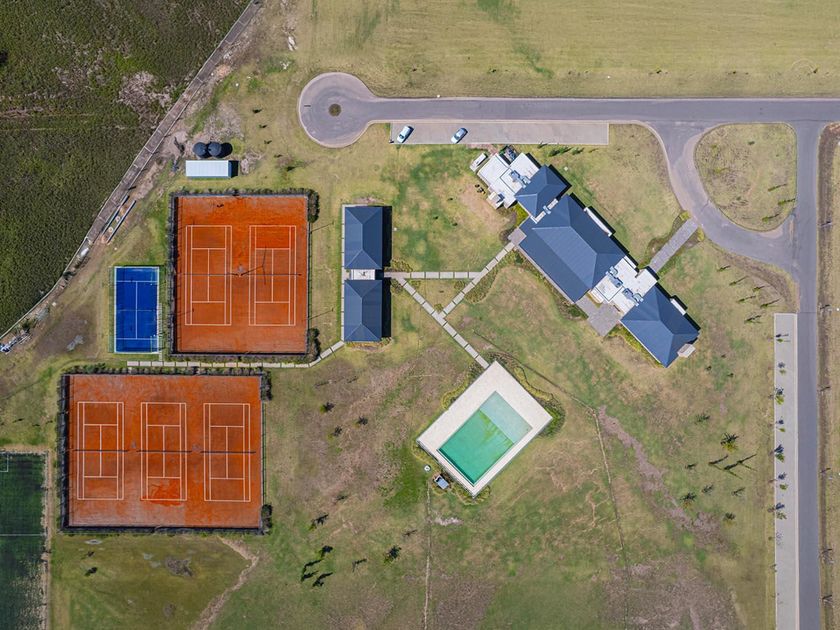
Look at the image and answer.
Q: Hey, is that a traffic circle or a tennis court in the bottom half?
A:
tennis court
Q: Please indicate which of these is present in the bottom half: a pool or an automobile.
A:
pool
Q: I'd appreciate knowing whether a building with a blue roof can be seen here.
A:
Yes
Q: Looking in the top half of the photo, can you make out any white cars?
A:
Yes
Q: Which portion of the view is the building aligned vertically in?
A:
center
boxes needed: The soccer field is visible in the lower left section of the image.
[0,452,47,630]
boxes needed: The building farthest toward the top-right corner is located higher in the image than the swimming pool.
[477,153,700,367]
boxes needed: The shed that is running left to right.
[186,160,231,178]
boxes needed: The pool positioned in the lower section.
[417,362,552,494]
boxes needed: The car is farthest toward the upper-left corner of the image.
[395,125,412,144]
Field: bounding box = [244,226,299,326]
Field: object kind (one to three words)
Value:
tennis court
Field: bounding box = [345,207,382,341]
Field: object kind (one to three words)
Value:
building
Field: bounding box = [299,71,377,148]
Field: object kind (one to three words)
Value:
roundabout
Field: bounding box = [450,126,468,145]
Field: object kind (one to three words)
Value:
car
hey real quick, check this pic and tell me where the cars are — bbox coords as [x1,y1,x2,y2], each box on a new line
[450,126,468,145]
[395,125,412,144]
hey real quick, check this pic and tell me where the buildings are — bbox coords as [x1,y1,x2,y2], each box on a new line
[345,207,382,341]
[477,153,700,367]
[186,160,231,178]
